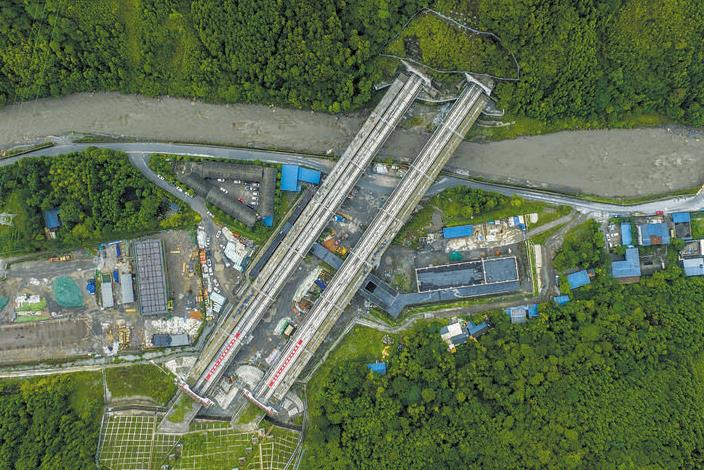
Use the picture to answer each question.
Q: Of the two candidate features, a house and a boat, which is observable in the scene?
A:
house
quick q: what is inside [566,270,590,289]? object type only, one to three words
house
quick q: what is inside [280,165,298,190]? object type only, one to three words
shed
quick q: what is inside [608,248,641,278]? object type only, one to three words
house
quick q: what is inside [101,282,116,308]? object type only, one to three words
building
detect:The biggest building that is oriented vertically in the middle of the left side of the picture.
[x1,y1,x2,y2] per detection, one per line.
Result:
[134,238,170,316]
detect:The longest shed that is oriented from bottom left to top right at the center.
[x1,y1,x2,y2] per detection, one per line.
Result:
[250,187,317,278]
